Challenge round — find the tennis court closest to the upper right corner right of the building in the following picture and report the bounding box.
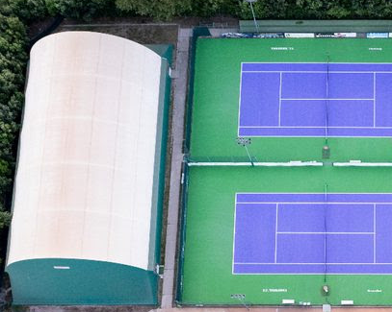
[188,37,392,163]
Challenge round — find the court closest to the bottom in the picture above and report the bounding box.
[179,163,392,305]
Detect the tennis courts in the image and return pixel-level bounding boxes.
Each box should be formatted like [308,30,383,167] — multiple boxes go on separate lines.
[188,37,392,163]
[179,163,392,305]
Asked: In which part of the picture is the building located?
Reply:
left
